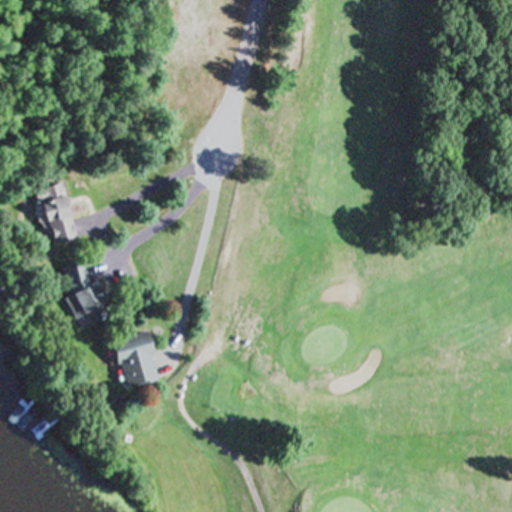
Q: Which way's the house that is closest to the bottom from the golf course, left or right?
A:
to the left of it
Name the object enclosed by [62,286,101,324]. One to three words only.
house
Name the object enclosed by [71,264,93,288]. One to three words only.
building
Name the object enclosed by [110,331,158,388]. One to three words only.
house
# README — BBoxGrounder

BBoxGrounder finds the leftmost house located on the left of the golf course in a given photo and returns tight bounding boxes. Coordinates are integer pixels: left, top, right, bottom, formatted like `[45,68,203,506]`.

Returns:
[34,182,75,241]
